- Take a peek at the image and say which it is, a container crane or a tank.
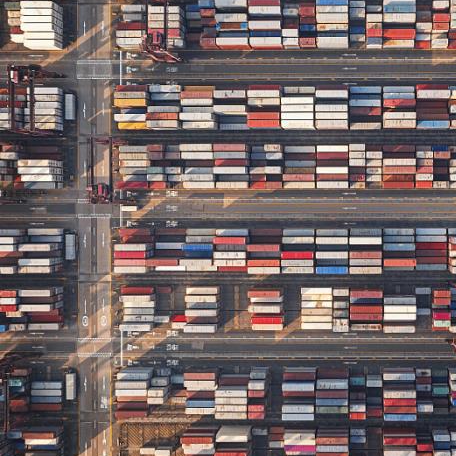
container crane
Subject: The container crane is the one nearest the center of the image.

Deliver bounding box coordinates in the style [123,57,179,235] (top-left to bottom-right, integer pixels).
[84,134,137,204]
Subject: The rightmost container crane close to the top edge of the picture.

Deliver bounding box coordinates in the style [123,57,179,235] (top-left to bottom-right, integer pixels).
[139,0,188,62]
